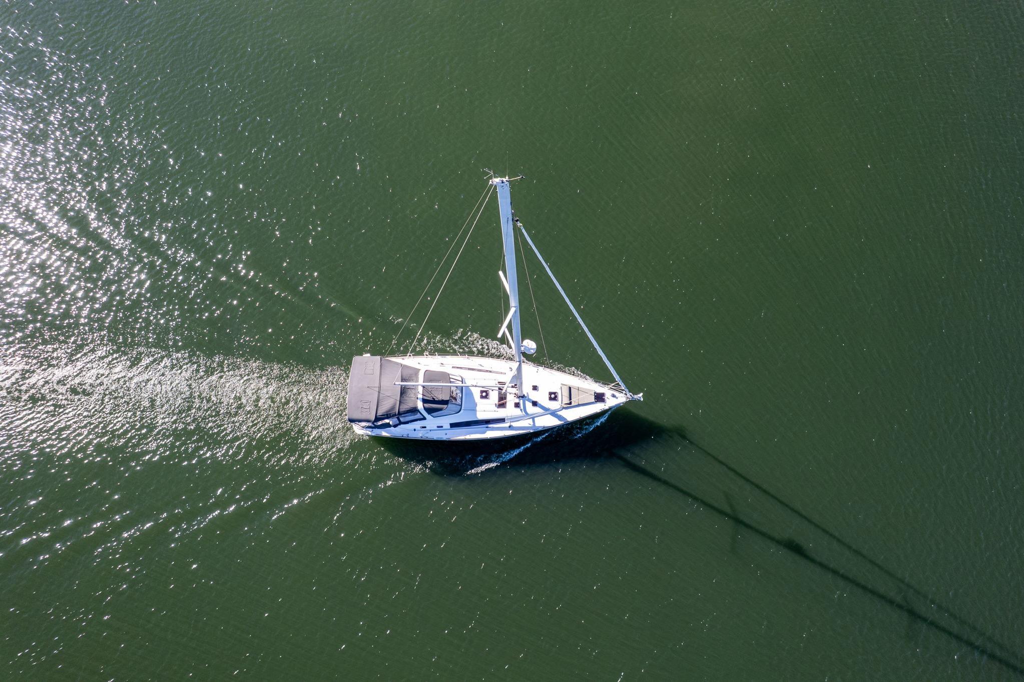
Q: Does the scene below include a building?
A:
No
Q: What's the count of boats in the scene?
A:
one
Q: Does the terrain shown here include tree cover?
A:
No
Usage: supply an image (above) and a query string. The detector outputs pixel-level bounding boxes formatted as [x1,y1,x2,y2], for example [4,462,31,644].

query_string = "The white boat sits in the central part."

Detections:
[347,168,646,442]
